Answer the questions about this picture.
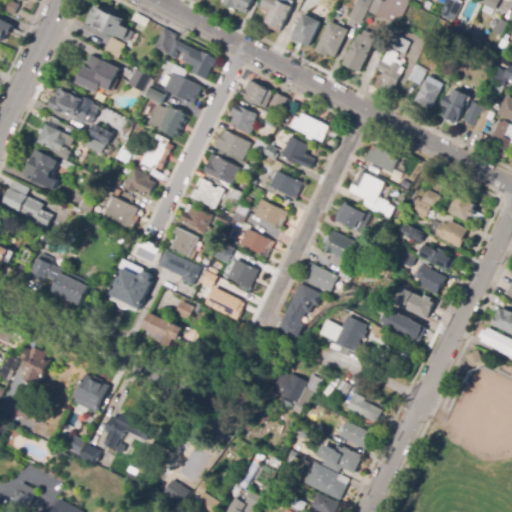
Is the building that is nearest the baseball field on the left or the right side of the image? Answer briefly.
right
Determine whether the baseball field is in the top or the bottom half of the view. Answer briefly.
bottom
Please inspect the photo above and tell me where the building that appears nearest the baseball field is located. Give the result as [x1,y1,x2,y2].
[482,328,512,356]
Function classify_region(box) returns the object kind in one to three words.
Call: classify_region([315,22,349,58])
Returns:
house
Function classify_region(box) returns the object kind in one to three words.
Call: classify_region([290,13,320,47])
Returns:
house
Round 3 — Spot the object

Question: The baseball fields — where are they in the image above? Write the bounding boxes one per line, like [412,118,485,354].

[416,368,512,512]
